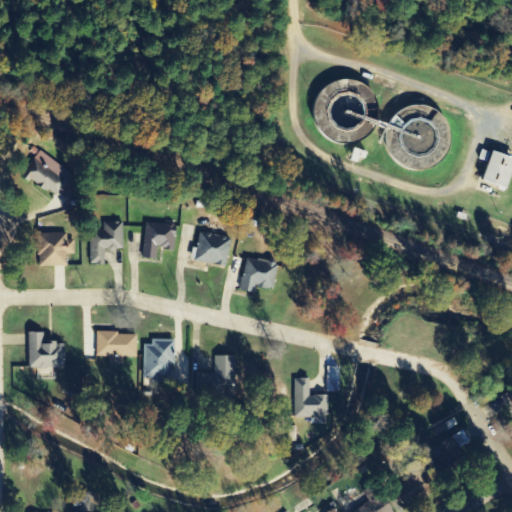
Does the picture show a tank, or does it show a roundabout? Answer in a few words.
tank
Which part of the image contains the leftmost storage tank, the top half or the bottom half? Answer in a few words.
top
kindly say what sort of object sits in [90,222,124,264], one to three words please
house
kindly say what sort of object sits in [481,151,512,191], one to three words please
building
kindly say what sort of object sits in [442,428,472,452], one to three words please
house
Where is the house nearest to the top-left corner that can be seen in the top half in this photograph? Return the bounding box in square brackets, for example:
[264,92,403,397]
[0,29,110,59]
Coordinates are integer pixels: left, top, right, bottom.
[30,152,64,196]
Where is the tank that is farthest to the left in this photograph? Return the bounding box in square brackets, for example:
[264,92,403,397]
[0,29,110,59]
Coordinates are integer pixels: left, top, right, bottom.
[314,78,378,144]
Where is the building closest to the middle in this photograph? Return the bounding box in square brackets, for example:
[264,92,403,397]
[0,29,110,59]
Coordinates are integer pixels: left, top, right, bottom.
[240,258,276,290]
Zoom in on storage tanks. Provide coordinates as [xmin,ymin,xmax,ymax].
[314,78,378,144]
[384,104,451,170]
